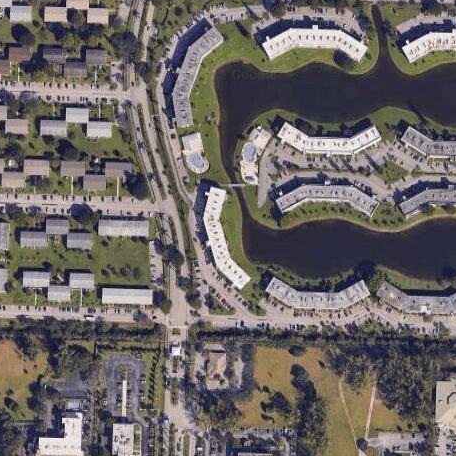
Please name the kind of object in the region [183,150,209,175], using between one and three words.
swimming pool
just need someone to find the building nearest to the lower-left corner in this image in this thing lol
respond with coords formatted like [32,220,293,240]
[36,412,83,456]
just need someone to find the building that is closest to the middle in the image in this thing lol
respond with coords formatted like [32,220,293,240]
[204,187,251,290]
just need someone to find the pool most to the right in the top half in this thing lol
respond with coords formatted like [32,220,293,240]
[240,142,265,184]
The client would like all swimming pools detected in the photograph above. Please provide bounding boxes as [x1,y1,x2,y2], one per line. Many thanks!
[240,142,265,184]
[183,150,209,175]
